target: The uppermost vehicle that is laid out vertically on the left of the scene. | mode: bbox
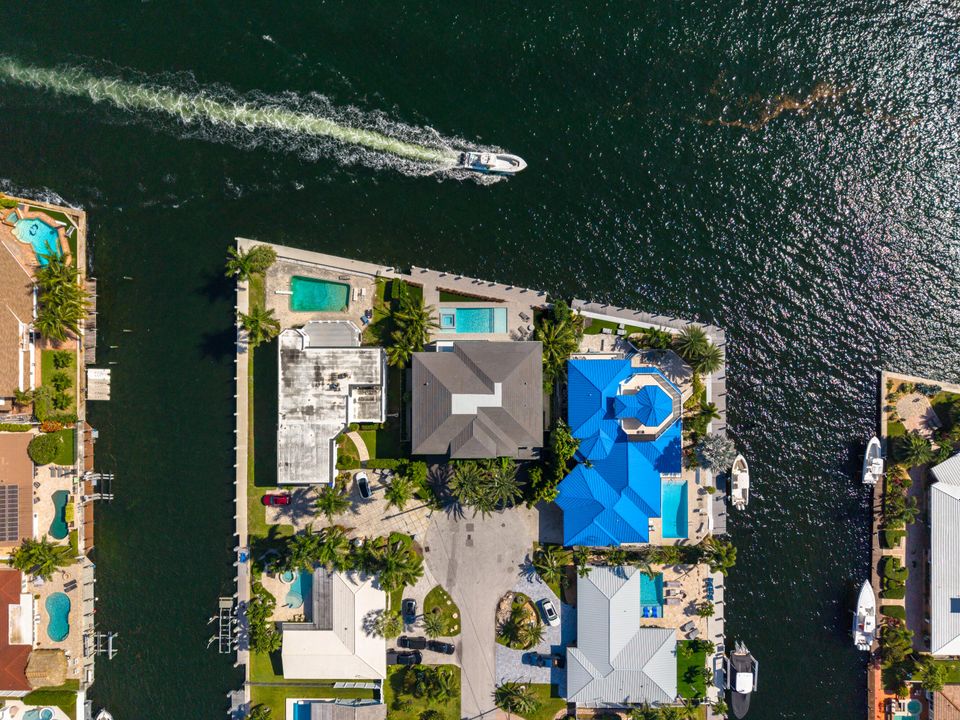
[354,470,371,500]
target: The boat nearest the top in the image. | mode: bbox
[460,152,528,172]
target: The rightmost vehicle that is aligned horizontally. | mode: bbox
[524,652,562,668]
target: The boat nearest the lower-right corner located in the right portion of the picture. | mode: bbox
[852,578,877,652]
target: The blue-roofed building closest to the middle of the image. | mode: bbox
[556,349,692,546]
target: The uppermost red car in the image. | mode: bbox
[262,493,290,508]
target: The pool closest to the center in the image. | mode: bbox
[439,307,508,334]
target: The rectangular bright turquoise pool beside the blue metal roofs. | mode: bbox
[660,478,689,540]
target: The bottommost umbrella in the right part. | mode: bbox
[678,562,694,578]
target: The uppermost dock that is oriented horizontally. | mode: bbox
[411,266,548,294]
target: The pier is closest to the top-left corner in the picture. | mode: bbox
[86,279,101,364]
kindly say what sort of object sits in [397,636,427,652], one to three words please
car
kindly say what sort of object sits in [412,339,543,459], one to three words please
house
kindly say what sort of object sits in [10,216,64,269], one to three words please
swimming pool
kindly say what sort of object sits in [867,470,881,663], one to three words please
pier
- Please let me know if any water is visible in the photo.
Yes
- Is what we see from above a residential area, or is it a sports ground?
residential area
